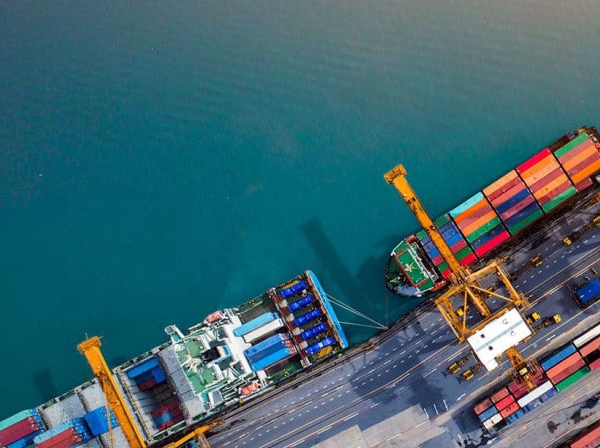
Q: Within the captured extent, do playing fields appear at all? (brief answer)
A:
No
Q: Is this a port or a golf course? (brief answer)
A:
port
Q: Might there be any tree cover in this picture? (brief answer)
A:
No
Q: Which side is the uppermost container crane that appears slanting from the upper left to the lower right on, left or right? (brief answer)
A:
right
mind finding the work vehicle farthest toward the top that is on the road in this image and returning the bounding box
[559,213,600,246]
